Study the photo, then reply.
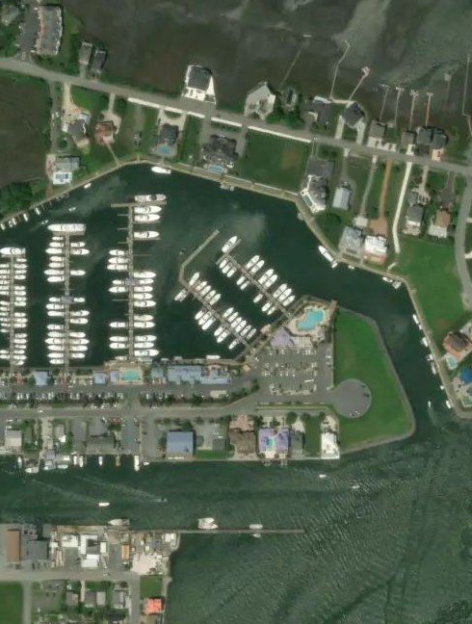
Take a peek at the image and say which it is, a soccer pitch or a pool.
pool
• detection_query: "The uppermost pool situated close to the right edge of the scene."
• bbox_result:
[444,355,457,370]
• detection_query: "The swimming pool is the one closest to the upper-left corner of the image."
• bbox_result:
[154,145,177,157]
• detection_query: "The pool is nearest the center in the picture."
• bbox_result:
[288,302,329,338]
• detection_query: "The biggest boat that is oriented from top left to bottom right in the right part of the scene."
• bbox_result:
[320,245,336,266]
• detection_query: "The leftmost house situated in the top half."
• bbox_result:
[0,5,21,26]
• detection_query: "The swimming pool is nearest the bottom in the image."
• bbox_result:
[265,439,279,458]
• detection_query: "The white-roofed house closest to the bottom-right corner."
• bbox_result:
[321,435,338,456]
